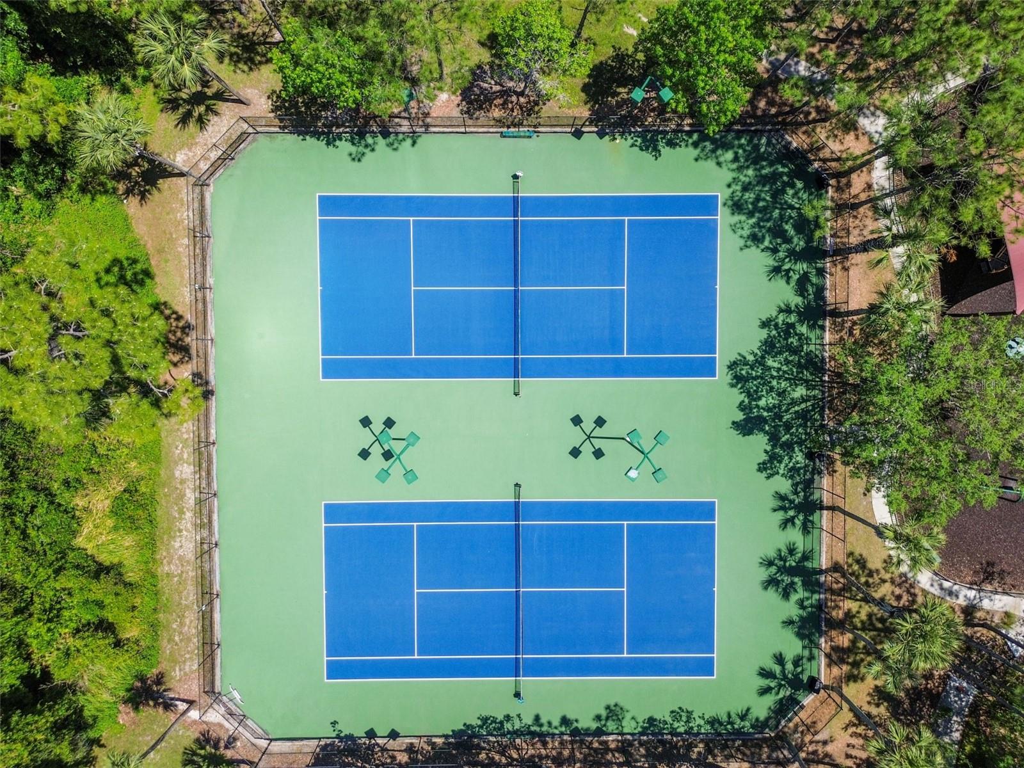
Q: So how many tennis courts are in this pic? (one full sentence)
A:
The photo contains 2 tennis courts.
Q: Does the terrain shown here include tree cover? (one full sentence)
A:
Yes, tree cover can be seen from above here.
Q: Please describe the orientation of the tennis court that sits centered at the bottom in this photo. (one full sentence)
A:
The tennis court that sits centered at the bottom is oriented from side to side.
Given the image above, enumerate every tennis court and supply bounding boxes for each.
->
[322,500,717,682]
[317,193,720,380]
